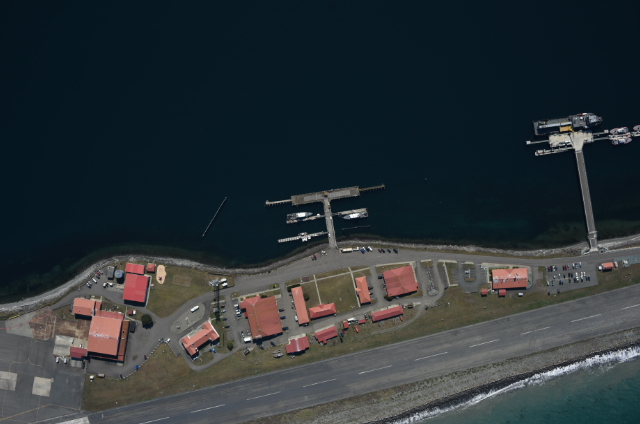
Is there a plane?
No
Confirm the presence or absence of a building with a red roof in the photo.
Yes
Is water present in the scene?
Yes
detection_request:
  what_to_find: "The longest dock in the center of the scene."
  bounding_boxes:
[265,184,386,250]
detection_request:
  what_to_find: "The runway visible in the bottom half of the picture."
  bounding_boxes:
[41,284,640,424]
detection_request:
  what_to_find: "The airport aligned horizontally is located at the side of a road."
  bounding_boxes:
[0,284,640,424]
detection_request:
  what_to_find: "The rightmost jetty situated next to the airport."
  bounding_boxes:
[526,129,610,251]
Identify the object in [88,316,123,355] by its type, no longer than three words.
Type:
hangar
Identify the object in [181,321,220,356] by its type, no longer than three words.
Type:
building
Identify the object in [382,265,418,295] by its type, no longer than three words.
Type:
building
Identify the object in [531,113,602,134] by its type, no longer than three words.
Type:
ship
